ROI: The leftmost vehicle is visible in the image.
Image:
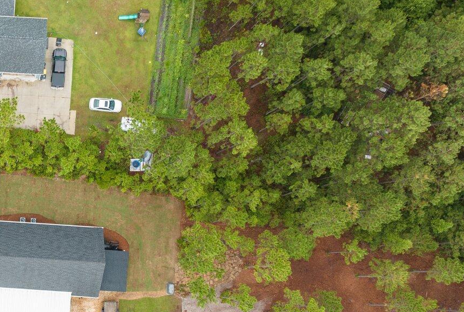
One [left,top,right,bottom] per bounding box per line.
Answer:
[51,48,67,91]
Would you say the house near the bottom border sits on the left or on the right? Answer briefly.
left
